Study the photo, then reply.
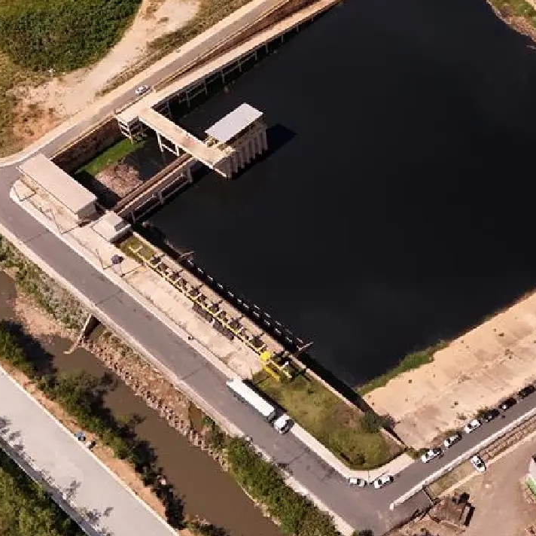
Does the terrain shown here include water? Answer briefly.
Yes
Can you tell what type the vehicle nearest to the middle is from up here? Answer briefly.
truck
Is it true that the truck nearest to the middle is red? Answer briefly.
No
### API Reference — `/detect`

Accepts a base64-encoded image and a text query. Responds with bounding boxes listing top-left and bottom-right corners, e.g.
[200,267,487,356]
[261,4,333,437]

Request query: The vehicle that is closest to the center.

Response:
[230,378,286,431]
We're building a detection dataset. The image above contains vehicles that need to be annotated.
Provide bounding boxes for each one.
[443,432,462,448]
[134,84,150,96]
[480,407,498,423]
[230,378,286,431]
[422,446,442,463]
[371,474,394,489]
[463,418,483,433]
[348,476,367,488]
[516,384,536,398]
[498,395,517,410]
